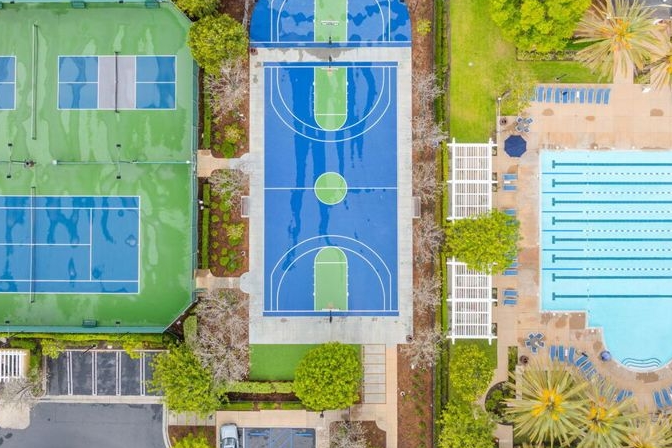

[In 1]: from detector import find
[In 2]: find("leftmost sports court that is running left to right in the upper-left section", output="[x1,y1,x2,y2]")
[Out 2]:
[58,56,176,109]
